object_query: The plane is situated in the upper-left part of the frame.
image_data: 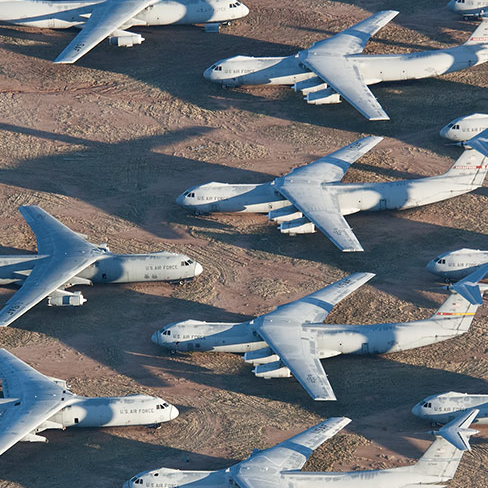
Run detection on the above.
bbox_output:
[0,0,249,65]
